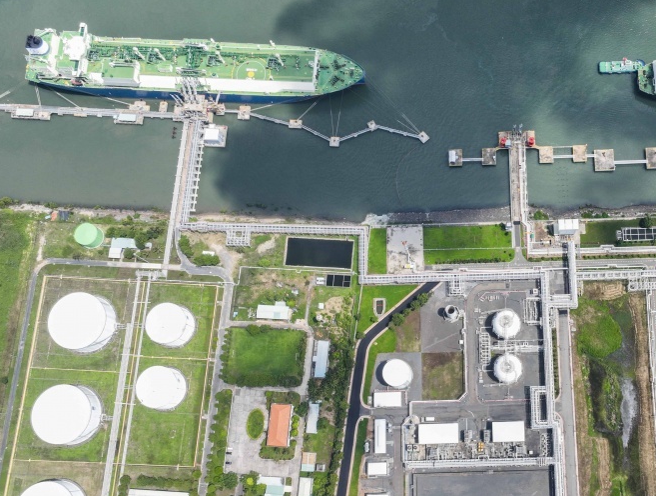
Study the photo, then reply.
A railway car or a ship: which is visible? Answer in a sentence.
The image shows a ship.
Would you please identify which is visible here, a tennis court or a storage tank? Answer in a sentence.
It is a storage tank that can be seen here.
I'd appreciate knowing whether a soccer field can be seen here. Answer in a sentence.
Yes, there's a soccer field down there.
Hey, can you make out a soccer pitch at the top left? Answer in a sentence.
No, no soccer pitch can be made out at the top left.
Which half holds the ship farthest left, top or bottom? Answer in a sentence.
You can find the ship farthest left in the top half.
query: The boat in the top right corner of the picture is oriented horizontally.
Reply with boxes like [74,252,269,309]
[599,60,642,74]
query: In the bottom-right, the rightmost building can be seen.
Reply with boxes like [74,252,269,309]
[492,421,525,442]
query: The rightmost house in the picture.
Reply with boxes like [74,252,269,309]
[557,220,579,235]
